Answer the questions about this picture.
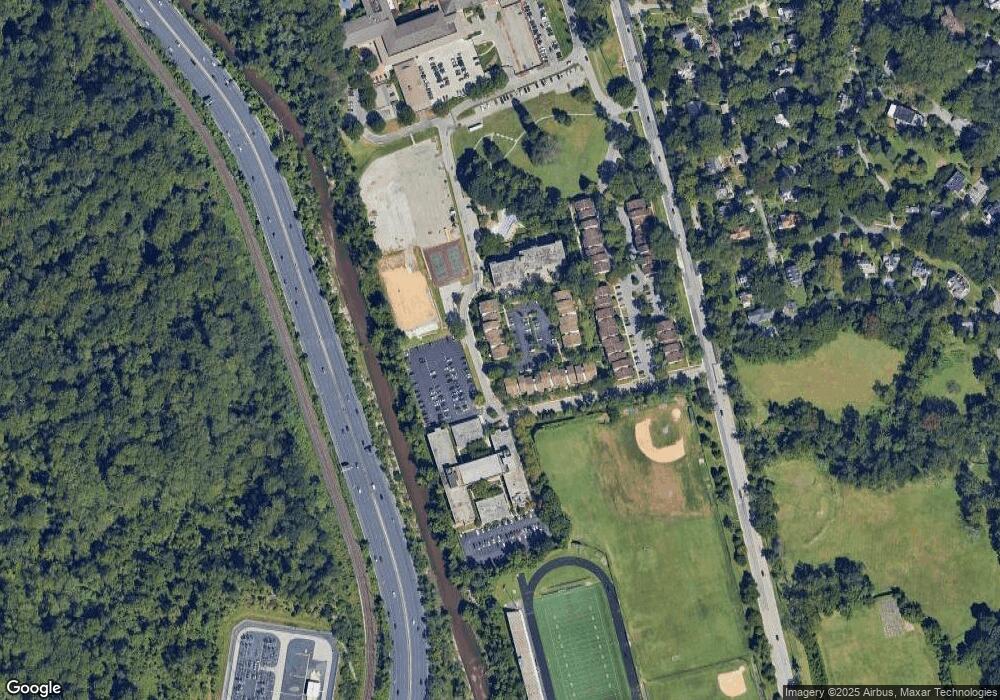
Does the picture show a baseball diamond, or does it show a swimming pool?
baseball diamond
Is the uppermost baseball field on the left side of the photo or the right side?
right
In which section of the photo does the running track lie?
bottom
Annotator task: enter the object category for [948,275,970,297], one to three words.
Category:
house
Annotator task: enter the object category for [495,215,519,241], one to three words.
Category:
house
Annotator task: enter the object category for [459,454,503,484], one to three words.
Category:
building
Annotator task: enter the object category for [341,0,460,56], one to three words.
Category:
building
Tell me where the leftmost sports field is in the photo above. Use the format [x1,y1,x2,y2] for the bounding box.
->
[534,581,628,700]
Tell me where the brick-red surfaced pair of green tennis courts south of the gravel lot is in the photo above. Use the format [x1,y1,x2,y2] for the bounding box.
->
[424,239,470,286]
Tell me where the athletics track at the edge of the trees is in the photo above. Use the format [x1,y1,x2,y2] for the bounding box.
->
[518,556,636,700]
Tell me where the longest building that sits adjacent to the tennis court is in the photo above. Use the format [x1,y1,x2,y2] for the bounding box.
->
[490,240,566,289]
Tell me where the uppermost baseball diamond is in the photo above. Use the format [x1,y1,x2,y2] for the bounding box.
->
[635,405,686,463]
